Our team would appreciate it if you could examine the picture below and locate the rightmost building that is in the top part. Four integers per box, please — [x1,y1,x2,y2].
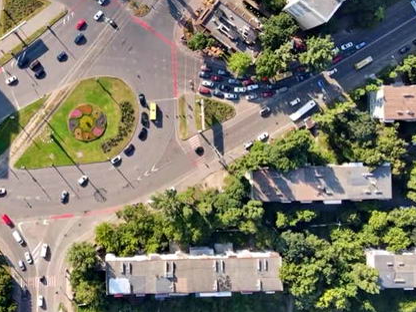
[364,86,416,125]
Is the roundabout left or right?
left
